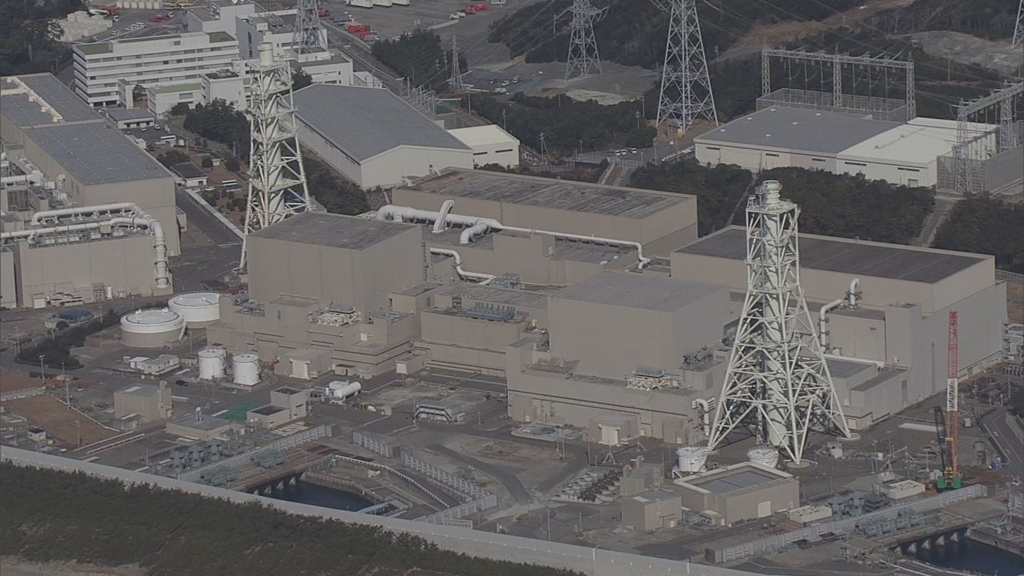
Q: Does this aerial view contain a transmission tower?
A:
Yes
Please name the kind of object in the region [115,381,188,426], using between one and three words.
building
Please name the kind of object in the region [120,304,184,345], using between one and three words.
storage tank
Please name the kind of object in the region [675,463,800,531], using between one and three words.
building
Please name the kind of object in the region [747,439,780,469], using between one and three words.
water tank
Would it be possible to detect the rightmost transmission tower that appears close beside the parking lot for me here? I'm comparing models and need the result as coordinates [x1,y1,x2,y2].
[651,0,722,134]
